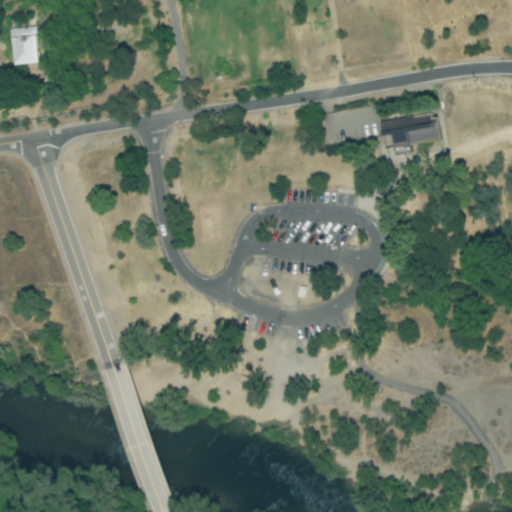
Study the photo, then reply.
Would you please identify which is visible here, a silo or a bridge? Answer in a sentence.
It is a bridge that can be seen here.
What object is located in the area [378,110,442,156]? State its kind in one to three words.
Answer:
building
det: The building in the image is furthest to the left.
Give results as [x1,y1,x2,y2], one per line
[10,26,38,65]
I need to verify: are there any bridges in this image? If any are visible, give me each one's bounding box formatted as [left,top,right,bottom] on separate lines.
[100,362,172,502]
